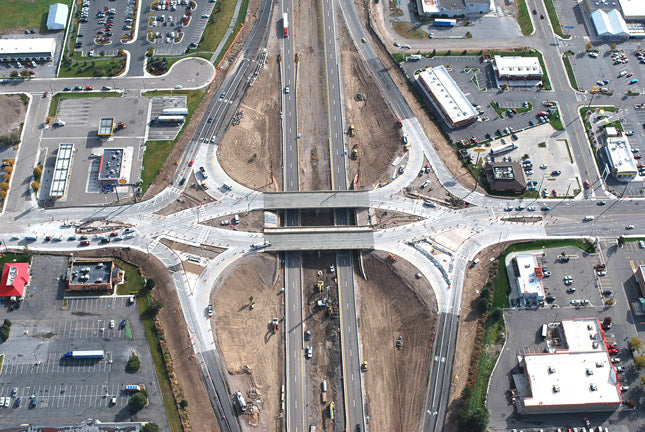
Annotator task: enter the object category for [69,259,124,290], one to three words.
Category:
building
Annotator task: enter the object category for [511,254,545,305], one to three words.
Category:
building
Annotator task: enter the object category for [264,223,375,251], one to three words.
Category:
bridge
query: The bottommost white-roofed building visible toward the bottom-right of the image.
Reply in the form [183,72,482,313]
[511,317,625,414]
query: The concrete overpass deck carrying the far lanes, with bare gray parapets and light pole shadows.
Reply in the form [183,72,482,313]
[263,189,373,211]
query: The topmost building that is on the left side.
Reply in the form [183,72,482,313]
[47,3,69,30]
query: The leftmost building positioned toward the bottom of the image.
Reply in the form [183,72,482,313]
[0,263,33,301]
